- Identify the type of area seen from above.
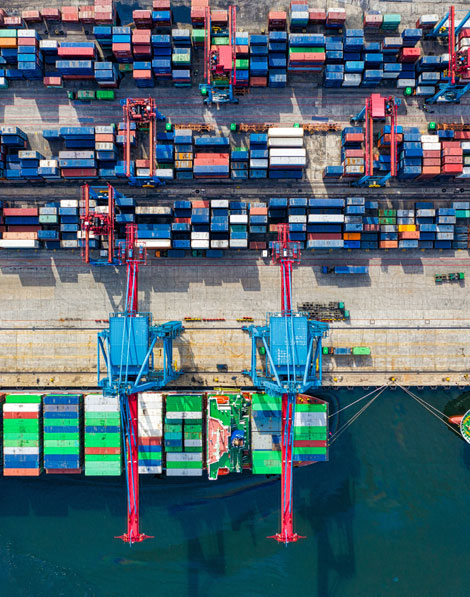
port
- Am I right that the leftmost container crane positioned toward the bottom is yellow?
No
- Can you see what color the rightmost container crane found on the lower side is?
blue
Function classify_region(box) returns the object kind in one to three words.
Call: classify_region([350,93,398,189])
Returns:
container crane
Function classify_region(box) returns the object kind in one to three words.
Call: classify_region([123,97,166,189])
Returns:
container crane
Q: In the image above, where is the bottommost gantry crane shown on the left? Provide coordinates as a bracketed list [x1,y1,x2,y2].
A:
[96,224,191,549]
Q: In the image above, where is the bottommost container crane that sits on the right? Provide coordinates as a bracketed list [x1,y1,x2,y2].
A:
[237,224,328,549]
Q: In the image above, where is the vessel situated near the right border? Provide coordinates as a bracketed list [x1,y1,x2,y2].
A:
[447,407,470,444]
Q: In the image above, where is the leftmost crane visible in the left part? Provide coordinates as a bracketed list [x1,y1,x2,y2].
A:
[82,181,129,267]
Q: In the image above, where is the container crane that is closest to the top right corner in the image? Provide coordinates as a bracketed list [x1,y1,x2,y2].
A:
[426,5,470,104]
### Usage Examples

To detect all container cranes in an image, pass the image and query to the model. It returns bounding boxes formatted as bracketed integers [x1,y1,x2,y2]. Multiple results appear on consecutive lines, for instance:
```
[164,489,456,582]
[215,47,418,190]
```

[237,224,328,549]
[426,5,470,104]
[203,5,238,104]
[350,93,398,189]
[96,224,191,549]
[123,97,166,189]
[82,181,129,267]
